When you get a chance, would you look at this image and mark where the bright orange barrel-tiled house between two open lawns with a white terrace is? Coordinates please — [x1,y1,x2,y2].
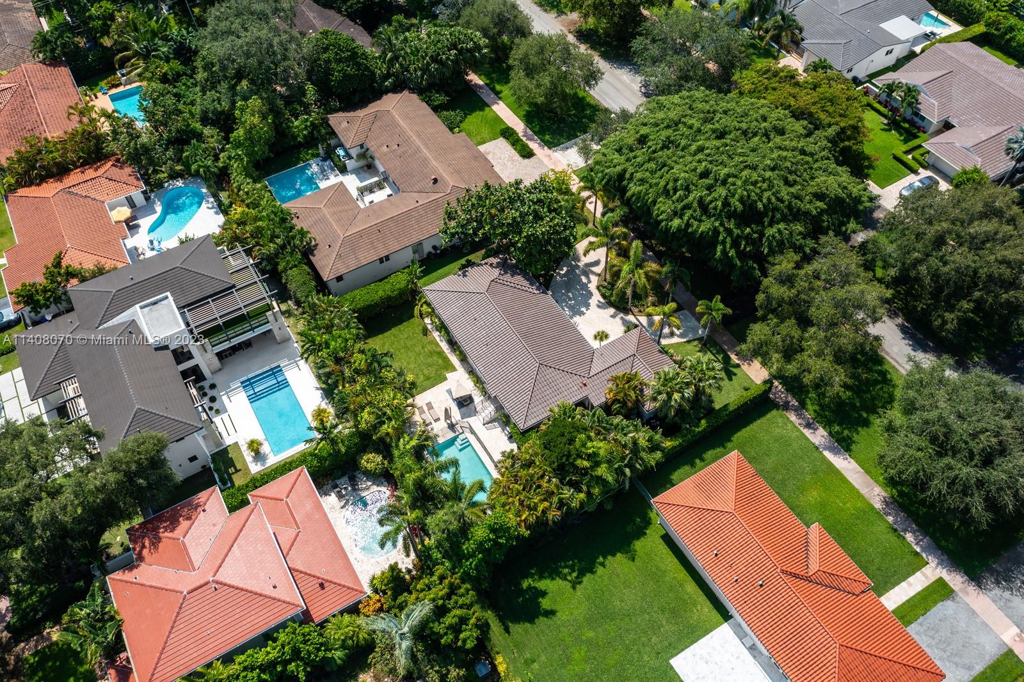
[652,448,946,682]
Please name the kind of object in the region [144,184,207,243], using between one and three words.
swimming pool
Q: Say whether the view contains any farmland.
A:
No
